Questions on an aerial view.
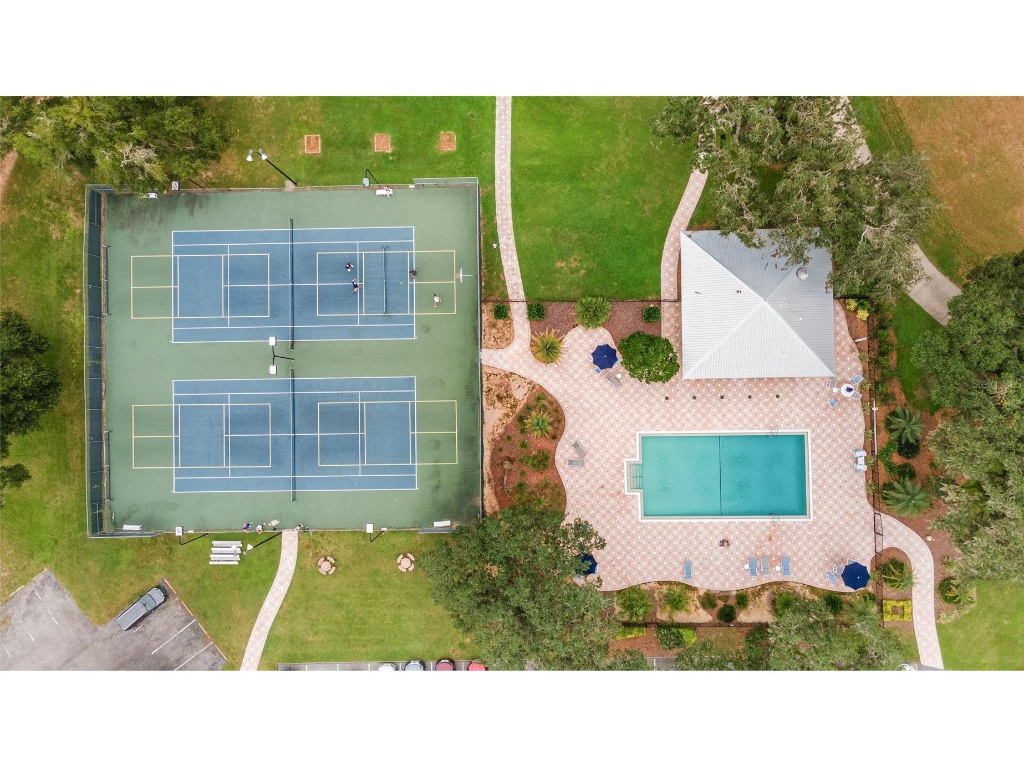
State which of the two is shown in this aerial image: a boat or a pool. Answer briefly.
pool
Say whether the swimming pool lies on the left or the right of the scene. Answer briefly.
right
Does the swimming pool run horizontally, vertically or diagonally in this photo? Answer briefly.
horizontally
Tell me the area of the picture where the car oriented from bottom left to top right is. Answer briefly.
bottom left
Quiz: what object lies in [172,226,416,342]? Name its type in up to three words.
tennis court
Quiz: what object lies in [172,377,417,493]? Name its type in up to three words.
tennis court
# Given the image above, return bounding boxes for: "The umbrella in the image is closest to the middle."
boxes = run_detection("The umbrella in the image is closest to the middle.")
[592,343,617,368]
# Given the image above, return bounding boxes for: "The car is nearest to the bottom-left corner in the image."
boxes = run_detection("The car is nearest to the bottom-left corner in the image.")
[108,585,169,634]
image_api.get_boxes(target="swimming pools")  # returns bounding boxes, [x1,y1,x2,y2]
[624,426,817,526]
